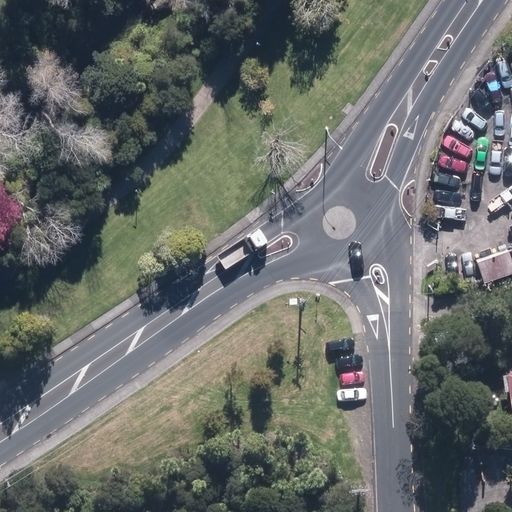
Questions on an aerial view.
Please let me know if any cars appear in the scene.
Yes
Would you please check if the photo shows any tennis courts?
No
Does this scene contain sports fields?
No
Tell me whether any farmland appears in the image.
No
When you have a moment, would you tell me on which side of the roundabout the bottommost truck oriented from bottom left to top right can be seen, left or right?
left of it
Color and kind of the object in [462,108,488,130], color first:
white car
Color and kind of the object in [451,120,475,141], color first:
white car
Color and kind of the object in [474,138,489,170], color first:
green car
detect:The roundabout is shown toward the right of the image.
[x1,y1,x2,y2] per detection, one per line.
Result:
[322,206,356,240]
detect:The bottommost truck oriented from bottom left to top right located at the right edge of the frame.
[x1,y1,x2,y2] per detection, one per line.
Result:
[486,186,512,215]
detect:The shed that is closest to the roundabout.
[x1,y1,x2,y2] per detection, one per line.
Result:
[474,249,512,286]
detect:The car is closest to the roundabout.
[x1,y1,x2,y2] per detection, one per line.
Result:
[348,241,362,271]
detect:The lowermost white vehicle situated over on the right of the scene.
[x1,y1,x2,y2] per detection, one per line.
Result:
[337,388,367,401]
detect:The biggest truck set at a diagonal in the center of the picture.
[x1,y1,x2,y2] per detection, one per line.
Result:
[218,228,268,268]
